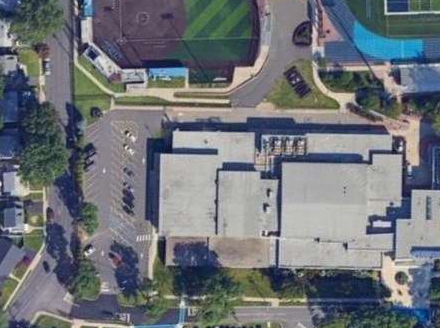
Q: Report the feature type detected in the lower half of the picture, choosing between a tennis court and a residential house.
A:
residential house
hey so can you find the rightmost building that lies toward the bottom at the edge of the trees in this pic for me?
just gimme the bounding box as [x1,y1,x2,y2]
[158,131,440,269]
